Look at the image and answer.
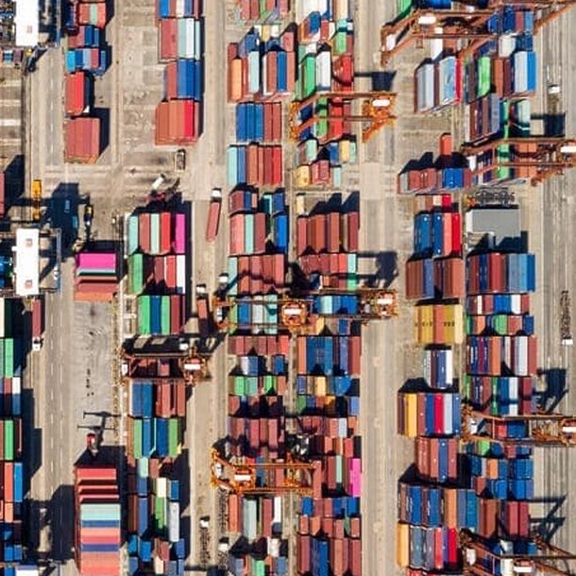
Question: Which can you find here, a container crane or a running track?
container crane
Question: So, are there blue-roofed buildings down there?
No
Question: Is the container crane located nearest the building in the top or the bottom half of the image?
top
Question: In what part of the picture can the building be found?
right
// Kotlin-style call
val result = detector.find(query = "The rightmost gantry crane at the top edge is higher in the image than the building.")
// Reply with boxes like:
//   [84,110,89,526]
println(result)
[462,0,576,32]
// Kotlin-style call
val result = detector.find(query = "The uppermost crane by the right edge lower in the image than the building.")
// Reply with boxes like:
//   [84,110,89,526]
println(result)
[462,405,576,449]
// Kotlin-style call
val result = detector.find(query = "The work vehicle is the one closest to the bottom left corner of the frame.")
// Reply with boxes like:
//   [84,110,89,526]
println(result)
[79,425,119,457]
